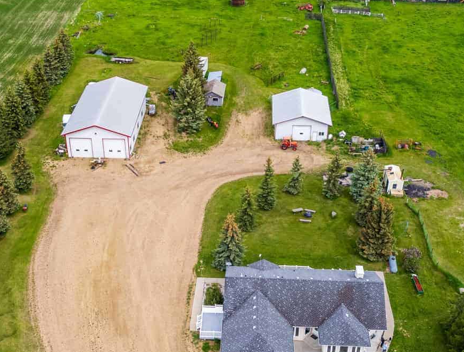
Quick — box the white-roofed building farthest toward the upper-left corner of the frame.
[63,78,145,158]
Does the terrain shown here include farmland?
Yes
